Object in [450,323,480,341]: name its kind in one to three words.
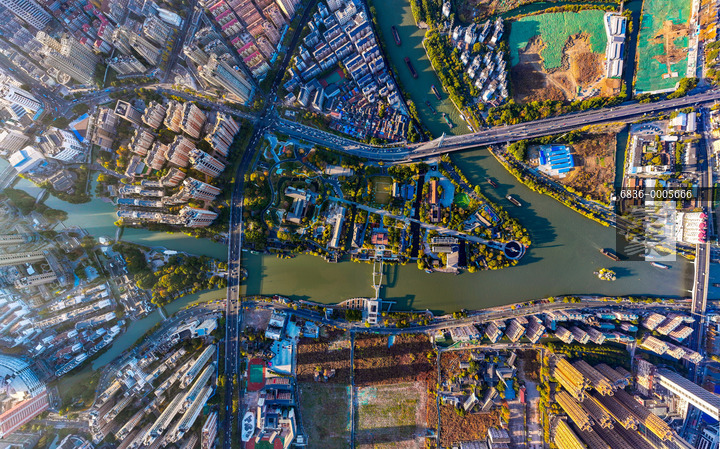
building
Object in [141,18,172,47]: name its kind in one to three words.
building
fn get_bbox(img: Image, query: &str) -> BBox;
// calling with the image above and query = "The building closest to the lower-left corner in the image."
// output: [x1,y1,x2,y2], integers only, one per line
[0,384,67,434]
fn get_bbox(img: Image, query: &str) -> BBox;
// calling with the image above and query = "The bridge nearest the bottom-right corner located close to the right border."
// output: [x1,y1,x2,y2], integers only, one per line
[689,233,710,347]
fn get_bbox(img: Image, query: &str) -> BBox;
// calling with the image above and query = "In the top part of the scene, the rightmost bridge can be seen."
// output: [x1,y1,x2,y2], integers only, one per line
[263,84,720,160]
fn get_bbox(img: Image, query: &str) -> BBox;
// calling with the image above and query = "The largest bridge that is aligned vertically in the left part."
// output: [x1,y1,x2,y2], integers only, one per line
[226,200,242,386]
